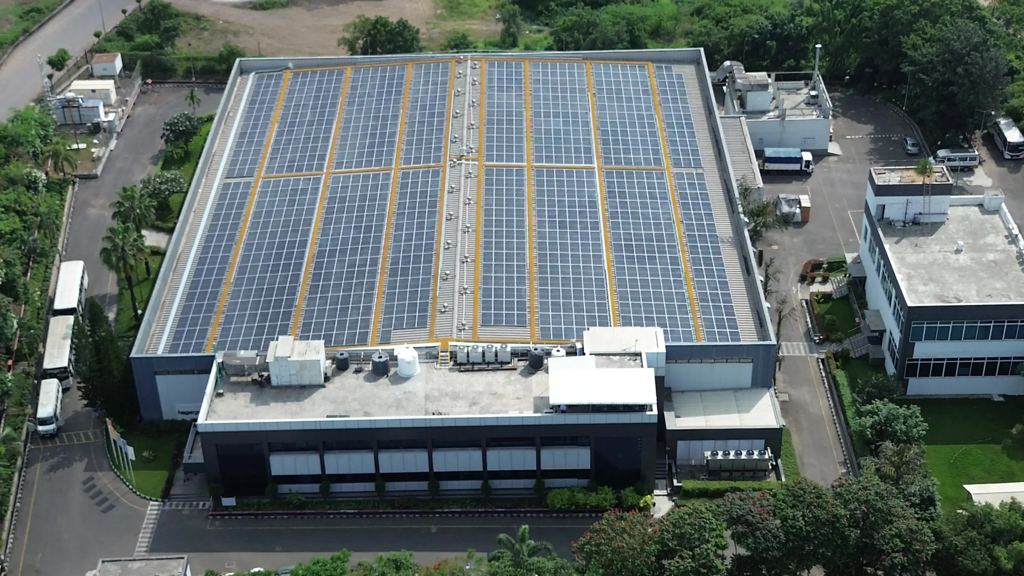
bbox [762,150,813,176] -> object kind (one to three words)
truck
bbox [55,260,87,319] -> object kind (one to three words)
bus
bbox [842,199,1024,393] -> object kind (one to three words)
building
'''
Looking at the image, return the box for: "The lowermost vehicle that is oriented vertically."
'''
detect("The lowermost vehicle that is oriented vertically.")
[35,378,67,443]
